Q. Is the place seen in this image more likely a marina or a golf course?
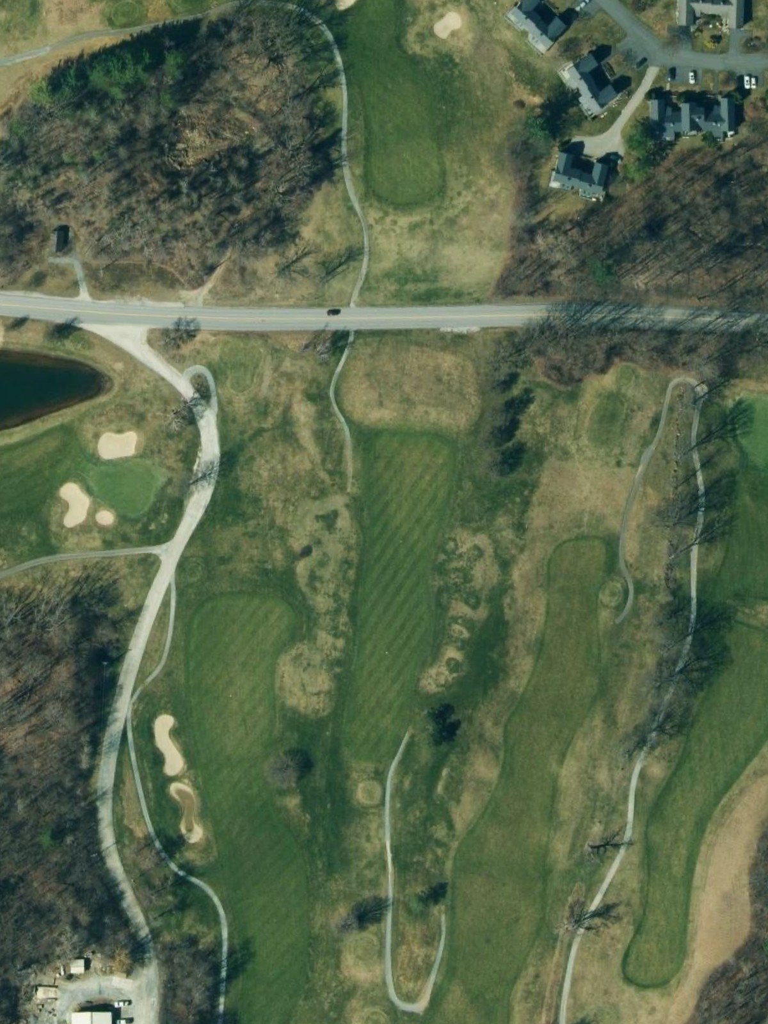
golf course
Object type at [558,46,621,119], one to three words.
house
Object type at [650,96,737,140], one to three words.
house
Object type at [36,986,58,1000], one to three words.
shed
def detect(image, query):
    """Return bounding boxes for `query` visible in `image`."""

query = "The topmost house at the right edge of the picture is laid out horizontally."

[677,0,746,28]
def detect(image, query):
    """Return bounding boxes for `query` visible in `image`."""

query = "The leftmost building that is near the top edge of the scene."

[505,0,570,56]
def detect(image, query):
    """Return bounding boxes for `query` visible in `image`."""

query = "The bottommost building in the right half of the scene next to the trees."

[550,150,610,202]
